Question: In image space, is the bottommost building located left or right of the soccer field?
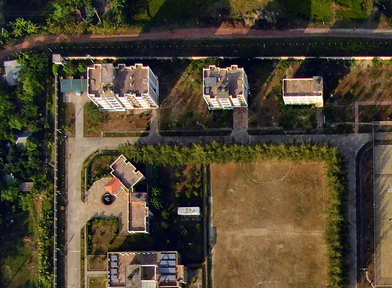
to the left of it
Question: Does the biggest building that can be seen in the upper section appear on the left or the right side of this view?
left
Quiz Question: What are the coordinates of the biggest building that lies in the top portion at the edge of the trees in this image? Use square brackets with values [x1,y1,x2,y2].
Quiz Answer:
[88,62,158,109]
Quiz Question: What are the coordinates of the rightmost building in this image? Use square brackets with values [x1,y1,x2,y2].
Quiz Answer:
[282,77,324,104]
